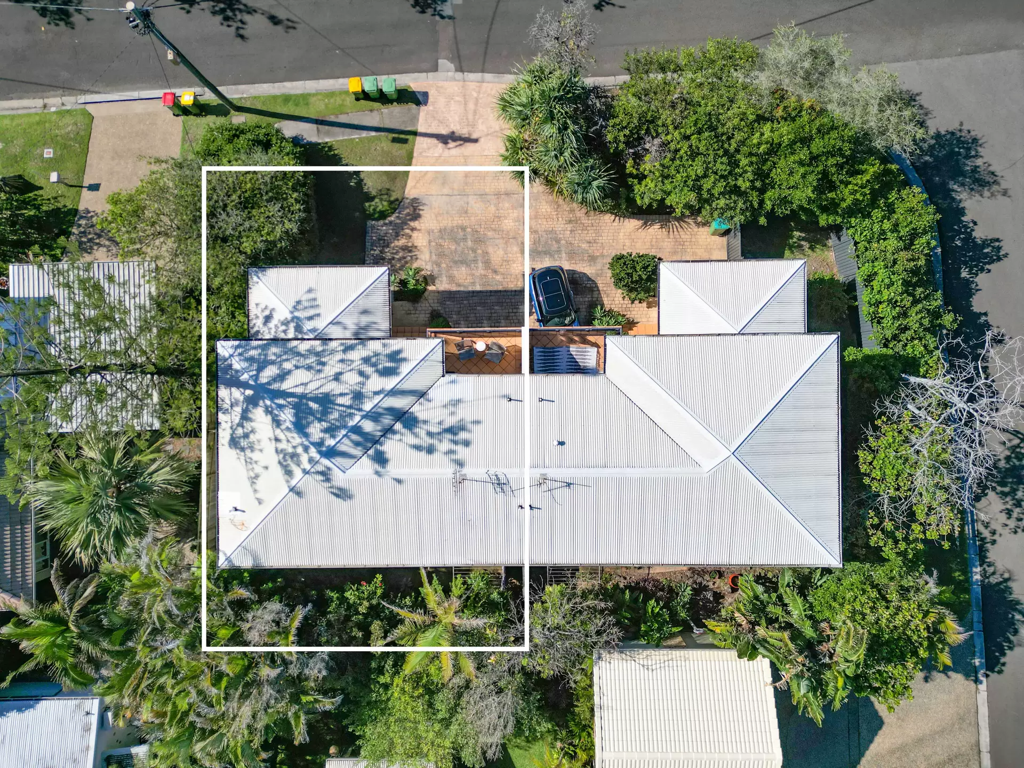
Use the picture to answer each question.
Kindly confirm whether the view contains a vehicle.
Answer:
Yes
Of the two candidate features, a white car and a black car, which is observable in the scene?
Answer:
black car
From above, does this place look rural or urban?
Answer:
urban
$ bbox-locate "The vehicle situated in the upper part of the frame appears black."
[530,260,588,328]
